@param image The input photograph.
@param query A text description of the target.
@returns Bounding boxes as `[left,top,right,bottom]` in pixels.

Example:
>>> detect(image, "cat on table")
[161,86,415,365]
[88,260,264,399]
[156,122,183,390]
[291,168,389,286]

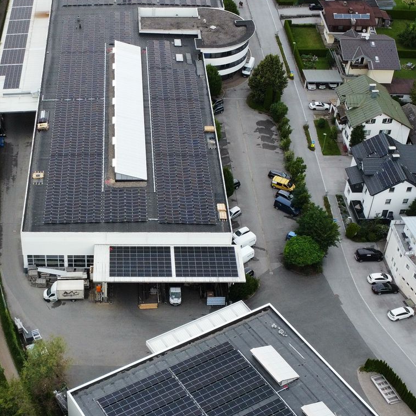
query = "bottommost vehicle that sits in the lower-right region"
[385,306,416,321]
